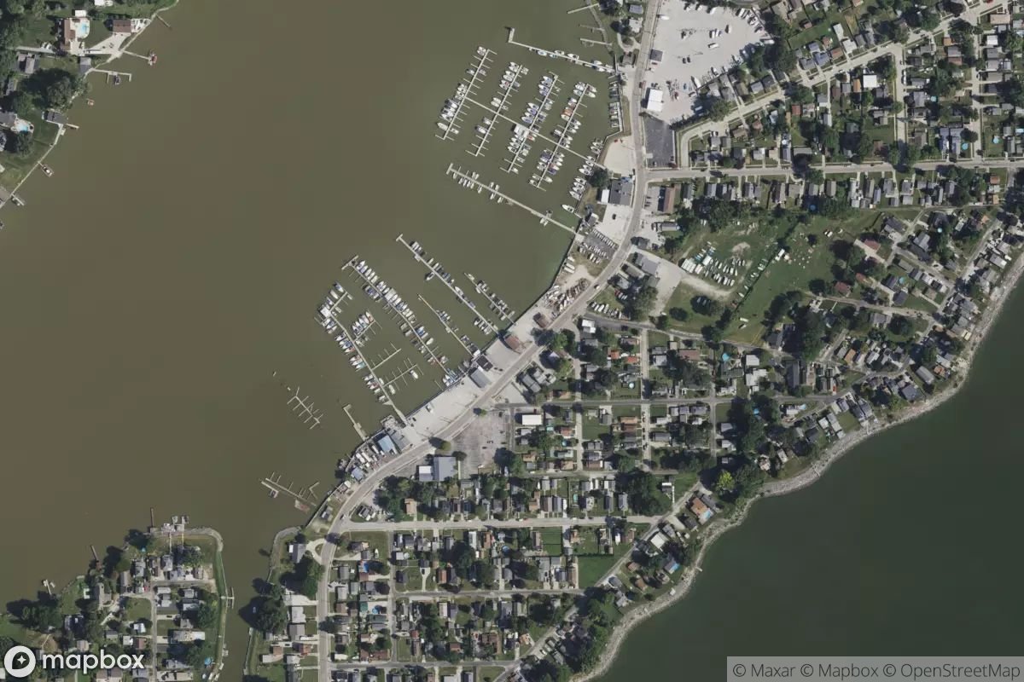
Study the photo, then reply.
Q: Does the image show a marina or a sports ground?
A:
marina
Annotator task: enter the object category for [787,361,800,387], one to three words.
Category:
building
